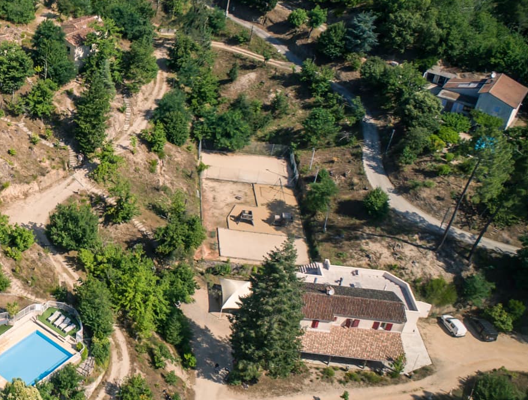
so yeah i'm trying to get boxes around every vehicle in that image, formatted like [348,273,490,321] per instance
[467,317,501,344]
[442,313,472,339]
